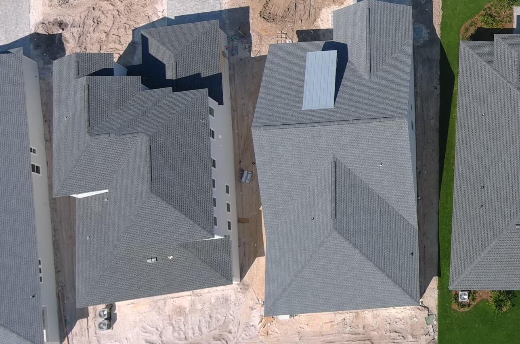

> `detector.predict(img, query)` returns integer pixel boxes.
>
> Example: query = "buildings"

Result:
[251,0,421,317]
[54,19,240,309]
[449,31,520,291]
[0,47,61,344]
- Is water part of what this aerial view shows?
No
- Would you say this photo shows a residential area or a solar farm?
residential area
